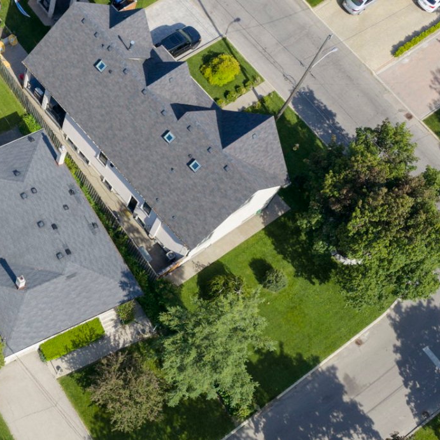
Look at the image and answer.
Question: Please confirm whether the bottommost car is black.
Yes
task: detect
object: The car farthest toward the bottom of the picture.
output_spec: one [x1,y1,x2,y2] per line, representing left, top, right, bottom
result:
[157,23,205,55]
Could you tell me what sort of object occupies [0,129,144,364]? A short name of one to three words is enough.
house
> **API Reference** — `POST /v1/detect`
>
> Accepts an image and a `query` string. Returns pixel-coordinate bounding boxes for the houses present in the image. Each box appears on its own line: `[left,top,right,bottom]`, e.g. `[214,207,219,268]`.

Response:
[0,129,144,364]
[21,1,295,262]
